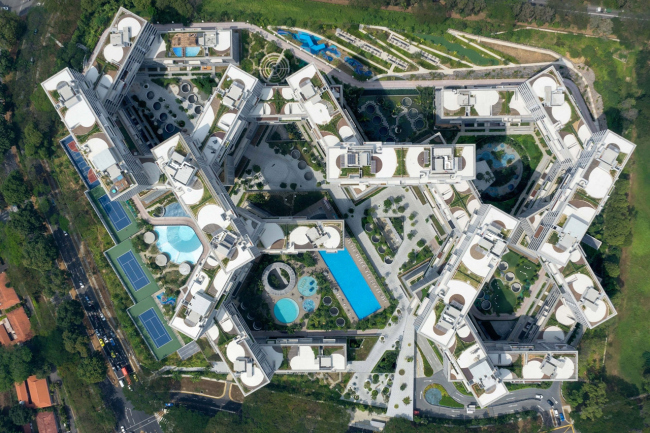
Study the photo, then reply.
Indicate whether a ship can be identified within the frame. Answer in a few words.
No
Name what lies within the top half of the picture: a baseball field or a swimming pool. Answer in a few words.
swimming pool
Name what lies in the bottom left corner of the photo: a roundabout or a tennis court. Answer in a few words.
tennis court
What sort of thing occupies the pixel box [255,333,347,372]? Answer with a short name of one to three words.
building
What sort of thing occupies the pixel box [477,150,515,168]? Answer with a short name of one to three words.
swimming pool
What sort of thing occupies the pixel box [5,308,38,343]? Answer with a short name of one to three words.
house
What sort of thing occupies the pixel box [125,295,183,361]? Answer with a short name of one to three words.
tennis court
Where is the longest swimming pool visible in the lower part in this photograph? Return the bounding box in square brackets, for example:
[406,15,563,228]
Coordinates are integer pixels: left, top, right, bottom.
[312,238,391,326]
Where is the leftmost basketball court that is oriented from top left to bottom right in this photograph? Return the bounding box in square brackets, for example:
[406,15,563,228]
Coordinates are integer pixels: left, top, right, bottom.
[58,135,100,190]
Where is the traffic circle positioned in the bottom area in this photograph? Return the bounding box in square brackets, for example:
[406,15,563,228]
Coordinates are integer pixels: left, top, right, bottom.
[423,383,467,408]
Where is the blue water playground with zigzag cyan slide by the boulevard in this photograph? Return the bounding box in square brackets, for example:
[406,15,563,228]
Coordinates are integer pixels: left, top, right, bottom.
[277,28,373,81]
